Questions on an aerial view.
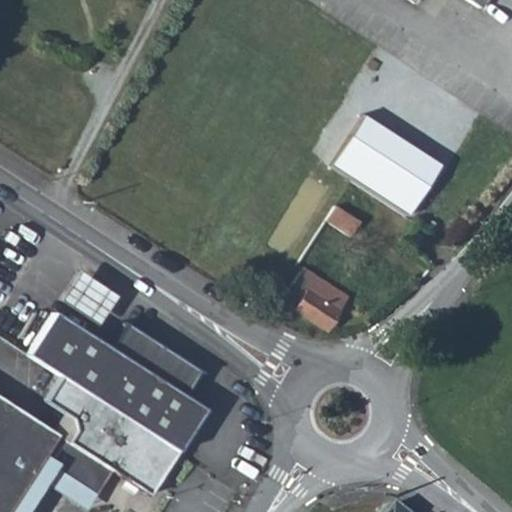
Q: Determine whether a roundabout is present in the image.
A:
Yes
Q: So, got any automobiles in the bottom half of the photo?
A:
Yes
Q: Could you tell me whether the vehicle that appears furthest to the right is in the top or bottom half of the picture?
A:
top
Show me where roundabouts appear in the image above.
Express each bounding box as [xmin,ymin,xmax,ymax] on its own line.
[292,369,412,489]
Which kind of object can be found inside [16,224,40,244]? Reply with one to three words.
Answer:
vehicle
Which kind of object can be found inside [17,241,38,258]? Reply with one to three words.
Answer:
car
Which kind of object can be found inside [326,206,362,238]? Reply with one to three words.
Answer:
shed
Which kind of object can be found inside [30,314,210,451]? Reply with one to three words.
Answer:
building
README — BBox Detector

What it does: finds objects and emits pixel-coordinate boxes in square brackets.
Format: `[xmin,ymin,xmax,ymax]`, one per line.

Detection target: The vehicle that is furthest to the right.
[485,4,510,24]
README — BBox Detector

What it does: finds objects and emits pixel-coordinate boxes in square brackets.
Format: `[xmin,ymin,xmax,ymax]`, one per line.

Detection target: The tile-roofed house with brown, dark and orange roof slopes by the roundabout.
[298,267,350,334]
